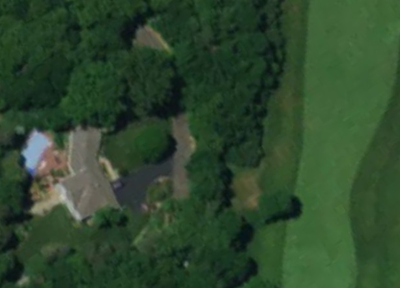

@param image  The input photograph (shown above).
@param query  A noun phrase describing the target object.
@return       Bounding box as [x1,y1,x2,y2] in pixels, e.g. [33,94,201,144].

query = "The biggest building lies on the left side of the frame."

[58,123,123,224]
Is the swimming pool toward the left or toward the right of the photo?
left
